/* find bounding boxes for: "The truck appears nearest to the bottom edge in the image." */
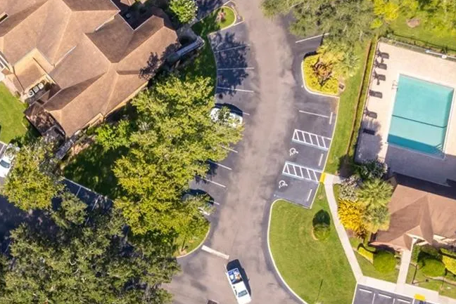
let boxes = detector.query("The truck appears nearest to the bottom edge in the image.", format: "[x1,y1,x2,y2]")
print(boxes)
[224,261,251,303]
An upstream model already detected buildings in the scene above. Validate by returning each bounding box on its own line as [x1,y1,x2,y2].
[0,0,186,147]
[370,170,456,254]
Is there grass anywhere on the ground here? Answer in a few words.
Yes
